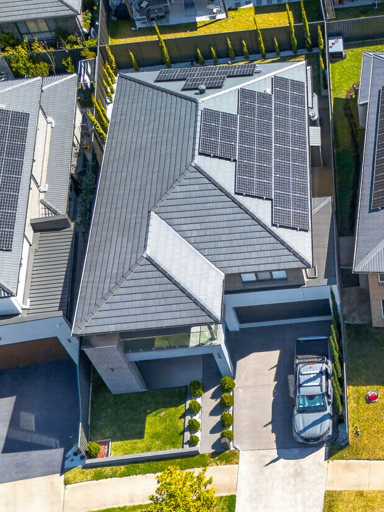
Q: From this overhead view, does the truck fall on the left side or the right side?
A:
right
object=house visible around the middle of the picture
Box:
[69,60,340,394]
